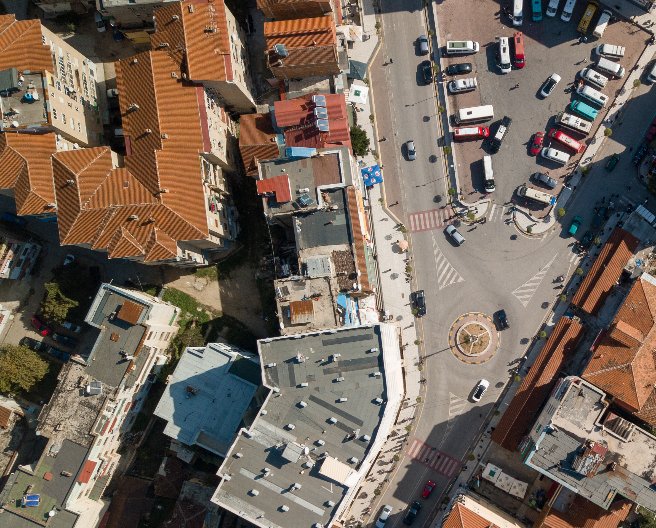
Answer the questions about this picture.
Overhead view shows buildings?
Yes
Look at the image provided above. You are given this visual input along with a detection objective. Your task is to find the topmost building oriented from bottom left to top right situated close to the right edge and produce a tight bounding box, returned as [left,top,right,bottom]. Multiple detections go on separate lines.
[571,228,640,316]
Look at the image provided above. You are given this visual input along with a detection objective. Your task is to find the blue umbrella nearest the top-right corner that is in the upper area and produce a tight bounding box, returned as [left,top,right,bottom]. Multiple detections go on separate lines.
[360,165,384,187]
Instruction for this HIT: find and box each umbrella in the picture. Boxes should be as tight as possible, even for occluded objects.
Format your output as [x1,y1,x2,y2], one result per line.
[359,306,379,325]
[509,480,529,500]
[346,25,363,44]
[336,26,347,34]
[494,470,516,493]
[480,461,500,482]
[346,59,369,82]
[347,84,370,105]
[359,294,375,310]
[360,165,384,187]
